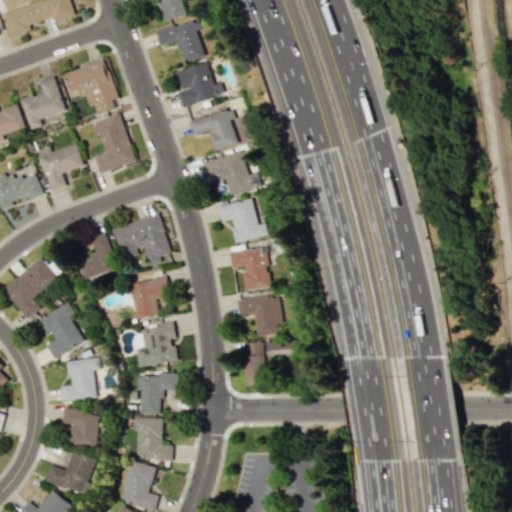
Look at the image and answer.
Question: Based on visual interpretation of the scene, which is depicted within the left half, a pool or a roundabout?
pool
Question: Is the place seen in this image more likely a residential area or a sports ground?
residential area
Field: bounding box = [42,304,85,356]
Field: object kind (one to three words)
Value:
house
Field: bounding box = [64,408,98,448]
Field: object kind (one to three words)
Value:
house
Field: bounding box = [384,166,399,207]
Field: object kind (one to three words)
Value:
vehicle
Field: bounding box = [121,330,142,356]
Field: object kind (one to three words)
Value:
swimming pool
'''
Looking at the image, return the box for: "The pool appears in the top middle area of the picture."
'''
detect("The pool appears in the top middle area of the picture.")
[219,60,240,91]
